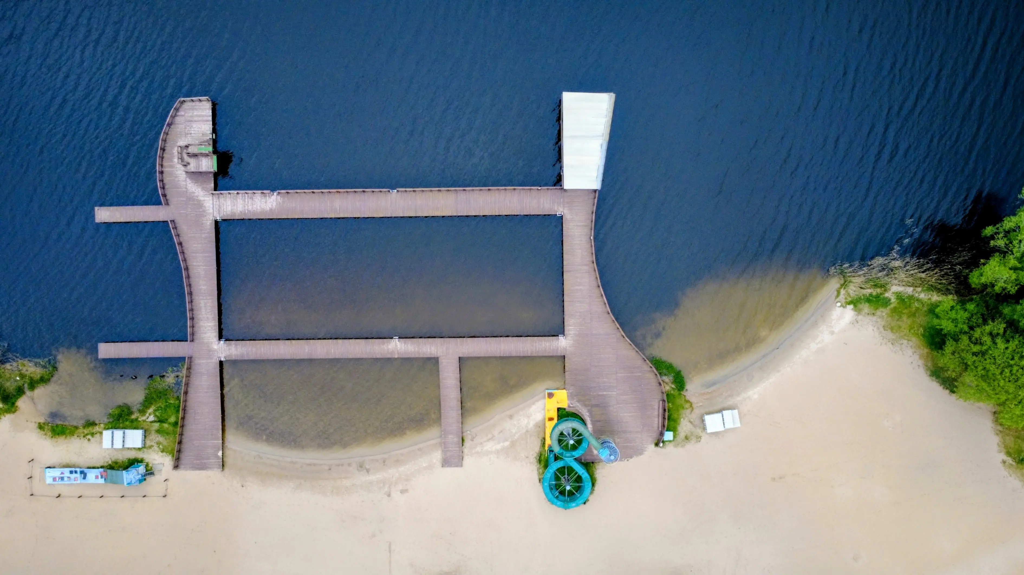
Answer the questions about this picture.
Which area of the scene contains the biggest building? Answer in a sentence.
Look in the top portion of the view to spot the biggest building.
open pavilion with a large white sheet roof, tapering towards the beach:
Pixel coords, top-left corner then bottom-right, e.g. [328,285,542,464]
[561,91,615,190]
